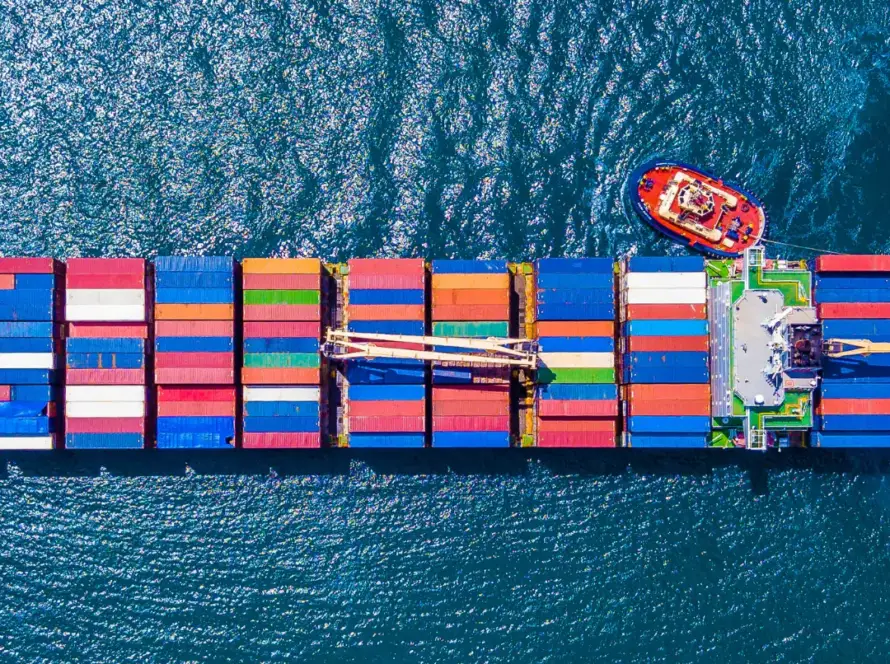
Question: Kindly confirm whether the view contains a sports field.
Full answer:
No, no sports field can be seen from above.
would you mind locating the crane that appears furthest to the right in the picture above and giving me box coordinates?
[807,337,890,360]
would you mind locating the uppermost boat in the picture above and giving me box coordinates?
[628,163,773,254]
